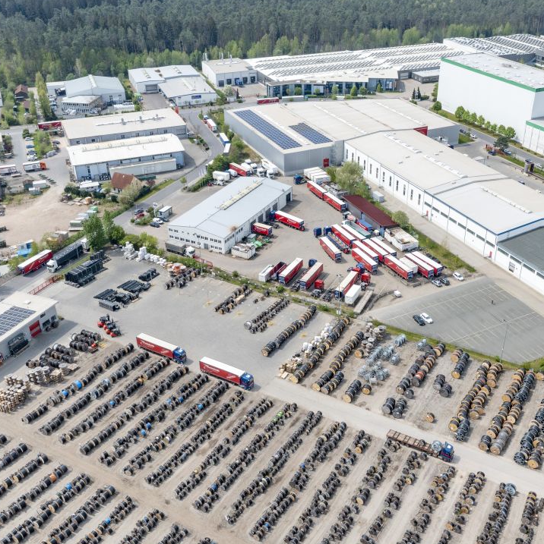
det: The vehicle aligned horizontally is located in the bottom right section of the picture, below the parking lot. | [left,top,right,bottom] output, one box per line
[381,426,448,455]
